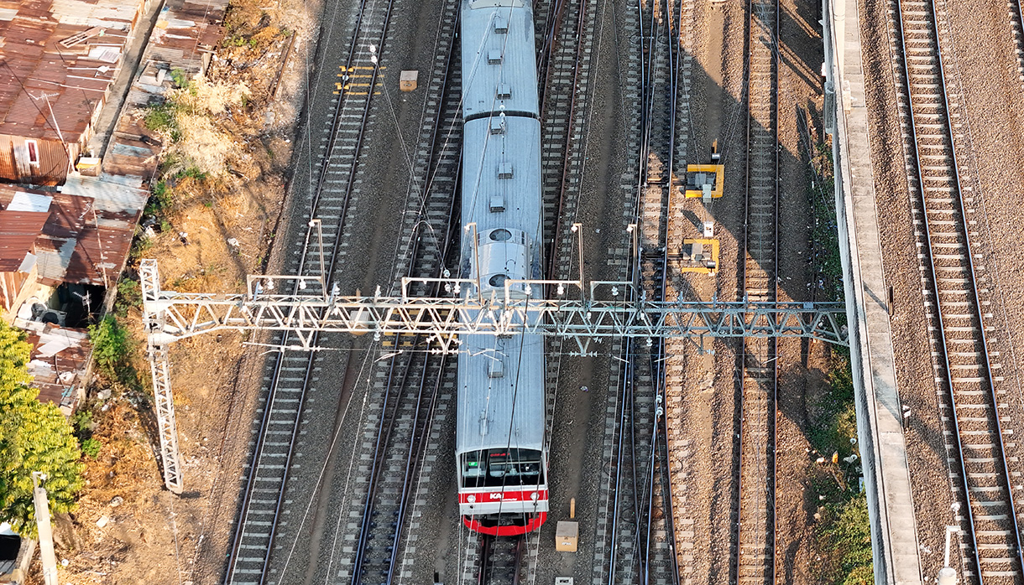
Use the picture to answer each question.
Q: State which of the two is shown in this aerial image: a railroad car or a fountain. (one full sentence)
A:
The one in the frame is a railroad car.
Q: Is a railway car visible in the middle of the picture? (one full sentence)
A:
Yes, you'll find a railway car in the middle of the picture.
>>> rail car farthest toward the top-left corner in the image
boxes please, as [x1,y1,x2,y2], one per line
[458,0,539,133]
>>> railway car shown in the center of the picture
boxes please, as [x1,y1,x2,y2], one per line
[452,114,550,536]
